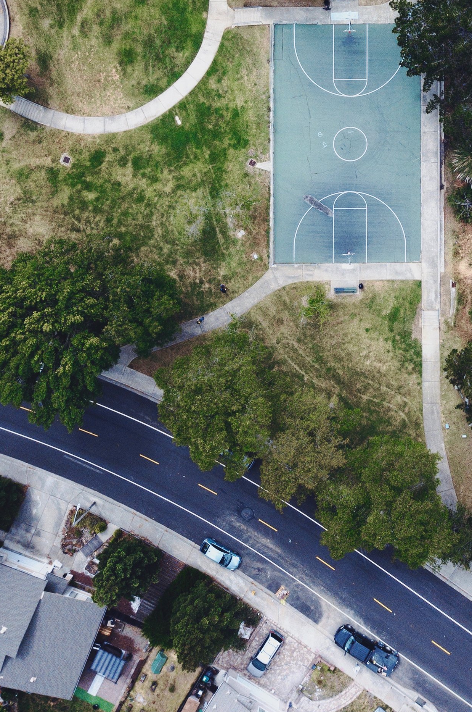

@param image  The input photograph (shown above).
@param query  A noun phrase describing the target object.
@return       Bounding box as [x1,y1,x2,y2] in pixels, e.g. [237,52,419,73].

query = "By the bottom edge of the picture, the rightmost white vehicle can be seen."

[248,633,283,679]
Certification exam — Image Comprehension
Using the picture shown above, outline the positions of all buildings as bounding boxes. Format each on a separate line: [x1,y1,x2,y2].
[197,662,295,712]
[0,541,110,702]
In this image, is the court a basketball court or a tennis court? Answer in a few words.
basketball court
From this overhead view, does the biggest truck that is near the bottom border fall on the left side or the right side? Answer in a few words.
right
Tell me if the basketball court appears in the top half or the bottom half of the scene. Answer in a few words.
top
